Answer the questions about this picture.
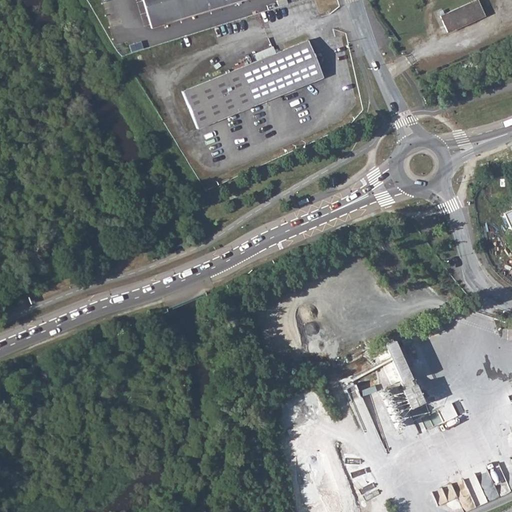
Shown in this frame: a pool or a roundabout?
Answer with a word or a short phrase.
roundabout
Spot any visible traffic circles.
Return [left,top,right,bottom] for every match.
[372,120,471,209]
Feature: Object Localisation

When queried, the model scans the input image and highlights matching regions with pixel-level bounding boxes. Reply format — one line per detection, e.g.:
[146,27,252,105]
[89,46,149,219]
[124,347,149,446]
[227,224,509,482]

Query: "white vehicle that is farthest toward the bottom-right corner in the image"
[488,464,500,486]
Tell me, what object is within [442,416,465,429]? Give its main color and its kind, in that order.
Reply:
white vehicle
